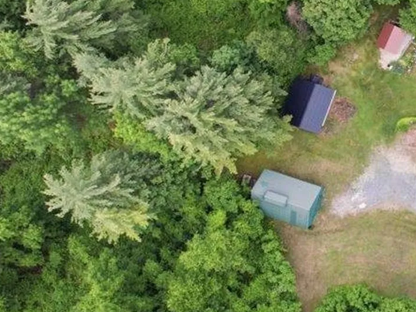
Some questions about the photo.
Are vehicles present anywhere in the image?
No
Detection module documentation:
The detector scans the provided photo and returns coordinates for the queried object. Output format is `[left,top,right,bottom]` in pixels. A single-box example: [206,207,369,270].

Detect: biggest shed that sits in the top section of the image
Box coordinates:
[284,77,341,133]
